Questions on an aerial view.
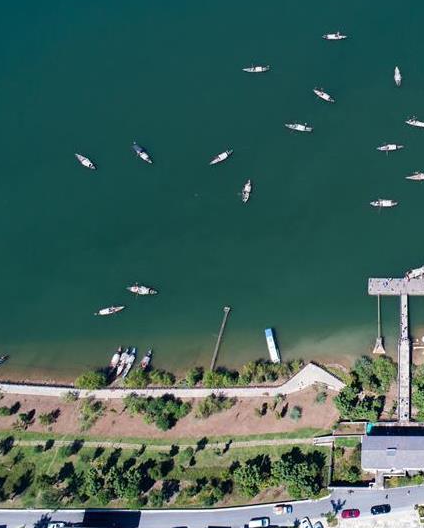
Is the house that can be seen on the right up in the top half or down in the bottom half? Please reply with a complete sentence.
The bottom half of the photo is where the house that can be seen on the right is.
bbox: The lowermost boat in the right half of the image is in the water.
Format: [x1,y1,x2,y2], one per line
[264,328,281,364]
